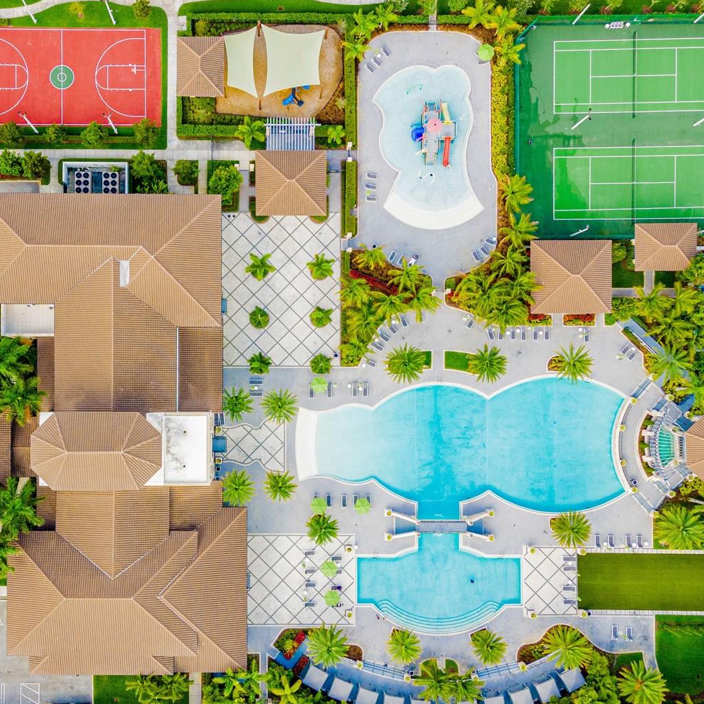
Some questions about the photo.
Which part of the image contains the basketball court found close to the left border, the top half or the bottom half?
top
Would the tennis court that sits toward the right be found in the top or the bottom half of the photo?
top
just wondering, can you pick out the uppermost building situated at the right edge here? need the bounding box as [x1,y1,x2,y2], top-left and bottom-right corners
[626,222,699,272]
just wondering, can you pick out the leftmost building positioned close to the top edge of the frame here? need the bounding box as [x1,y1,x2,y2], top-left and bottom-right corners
[175,35,226,101]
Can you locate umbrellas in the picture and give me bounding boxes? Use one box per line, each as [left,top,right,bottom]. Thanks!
[475,45,494,62]
[320,558,337,576]
[353,496,370,513]
[310,376,327,394]
[310,496,327,512]
[323,588,341,605]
